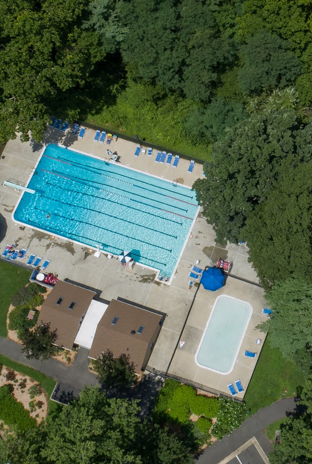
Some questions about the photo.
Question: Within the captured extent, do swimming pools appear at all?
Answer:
Yes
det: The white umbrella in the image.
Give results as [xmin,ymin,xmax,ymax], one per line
[118,254,132,268]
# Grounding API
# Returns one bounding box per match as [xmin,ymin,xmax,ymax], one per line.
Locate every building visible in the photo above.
[88,298,162,376]
[32,280,96,351]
